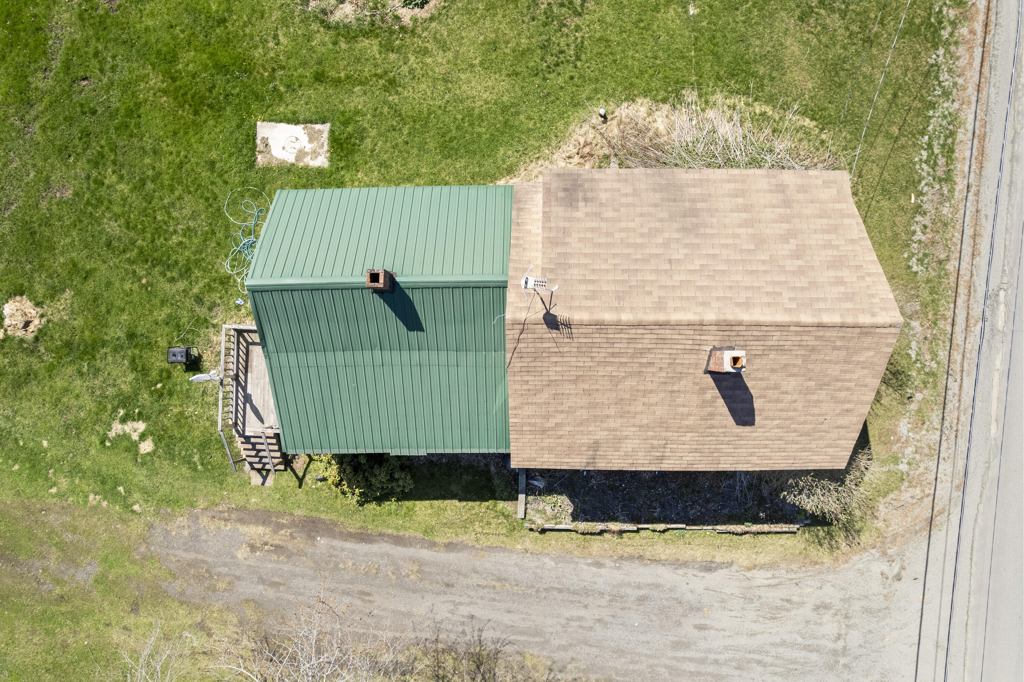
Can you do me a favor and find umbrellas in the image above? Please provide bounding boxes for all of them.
[196,369,234,384]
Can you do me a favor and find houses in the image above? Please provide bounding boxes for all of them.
[244,168,902,471]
